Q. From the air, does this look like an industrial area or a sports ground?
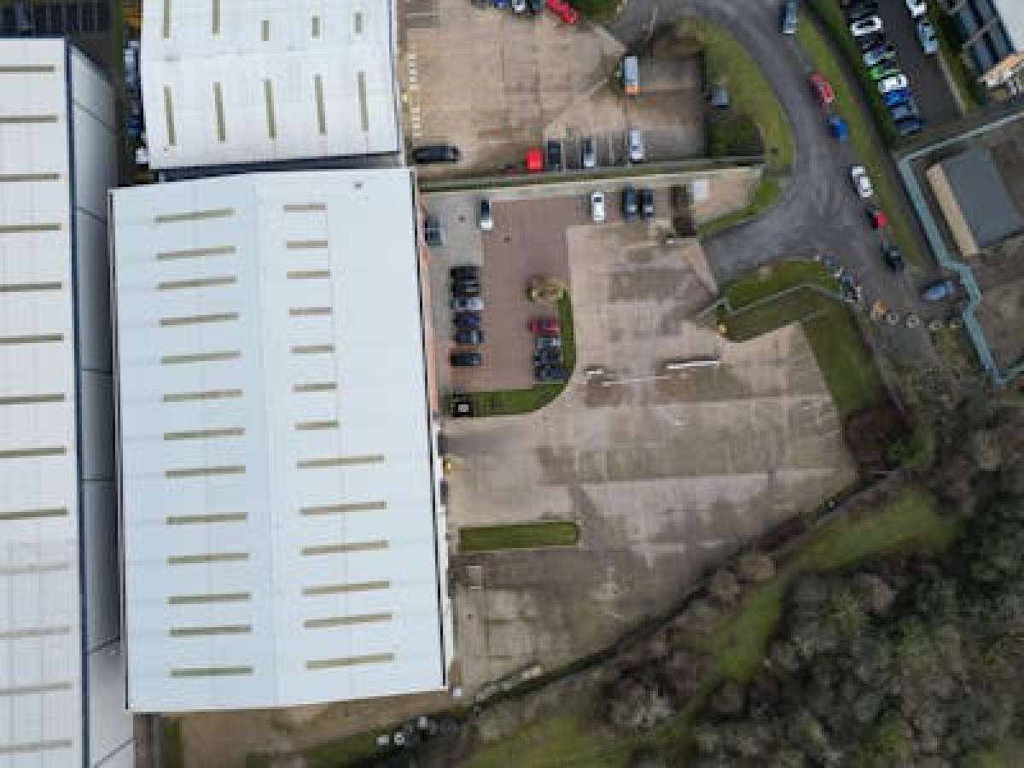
industrial area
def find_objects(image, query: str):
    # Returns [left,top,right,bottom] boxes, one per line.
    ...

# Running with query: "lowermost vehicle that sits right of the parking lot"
[920,282,953,300]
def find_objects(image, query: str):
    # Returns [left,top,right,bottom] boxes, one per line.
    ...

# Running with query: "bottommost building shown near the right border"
[928,143,1024,253]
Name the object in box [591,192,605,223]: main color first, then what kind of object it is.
white car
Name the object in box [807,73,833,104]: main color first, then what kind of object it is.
red car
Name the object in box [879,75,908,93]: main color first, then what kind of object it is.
white car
